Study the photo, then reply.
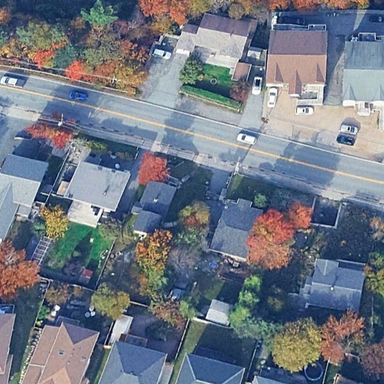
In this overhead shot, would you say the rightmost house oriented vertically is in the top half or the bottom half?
top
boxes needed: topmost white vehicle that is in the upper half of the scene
[151,47,174,59]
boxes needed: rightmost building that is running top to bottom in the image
[342,32,384,130]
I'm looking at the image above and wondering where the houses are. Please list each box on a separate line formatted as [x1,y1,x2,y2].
[210,198,264,261]
[176,13,257,69]
[0,153,49,240]
[22,315,99,384]
[286,258,365,313]
[65,160,130,225]
[177,344,245,384]
[133,178,181,237]
[266,23,328,106]
[101,333,167,384]
[0,305,16,384]
[342,32,384,130]
[333,375,363,384]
